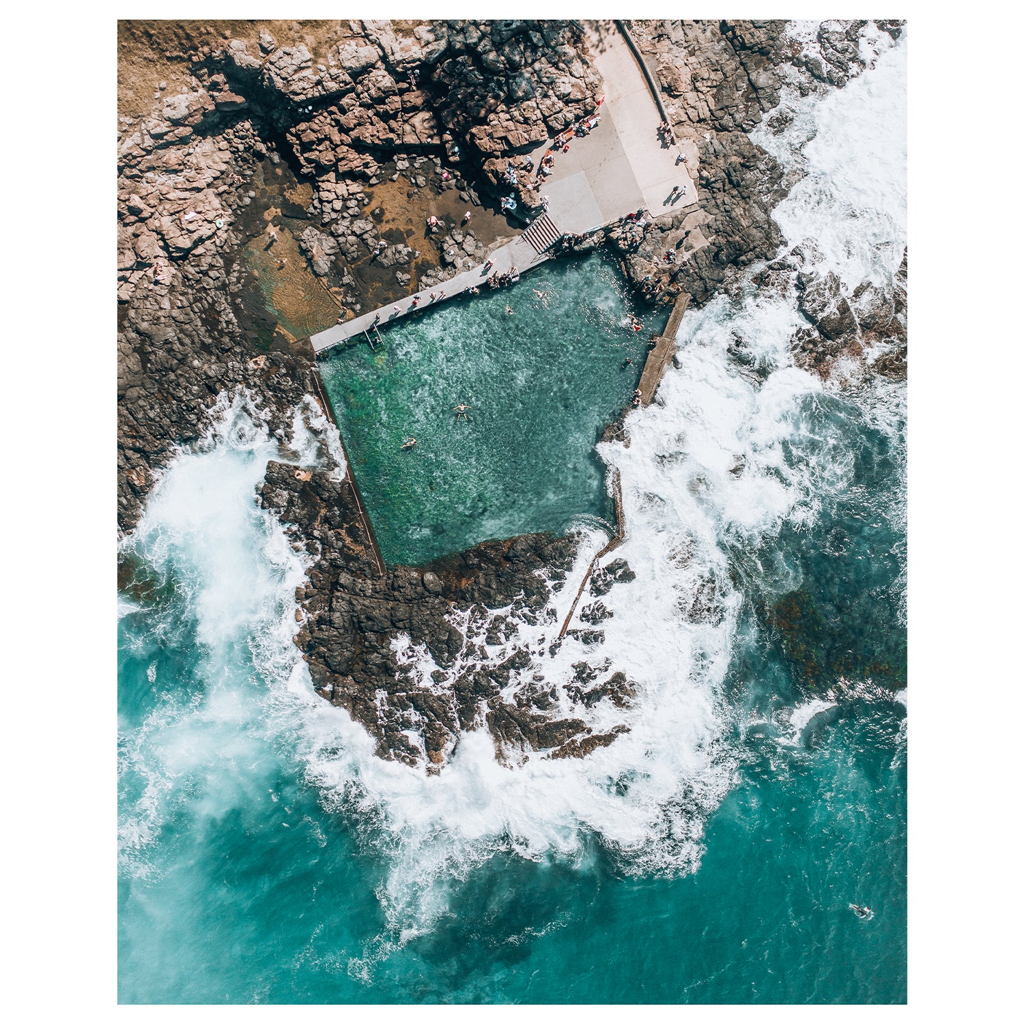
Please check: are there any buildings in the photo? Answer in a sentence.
No, there isn't any building down there.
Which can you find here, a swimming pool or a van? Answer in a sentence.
It is a swimming pool that can be seen here.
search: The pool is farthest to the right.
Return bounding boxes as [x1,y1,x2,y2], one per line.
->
[320,246,672,569]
